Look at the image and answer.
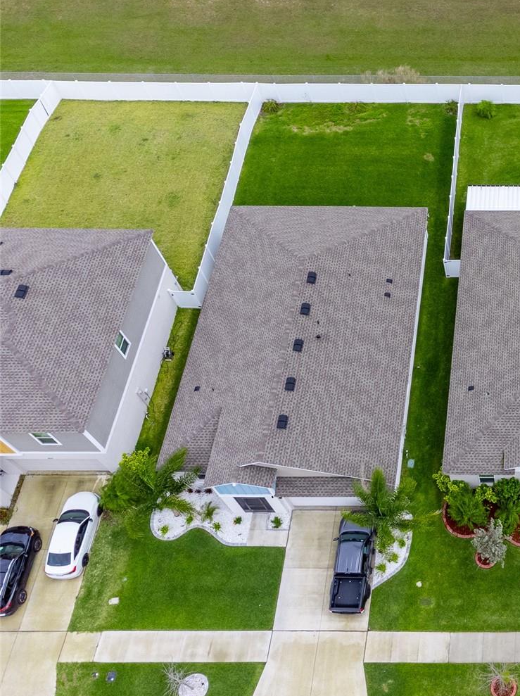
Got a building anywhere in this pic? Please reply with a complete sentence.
Yes, the picture does show a building.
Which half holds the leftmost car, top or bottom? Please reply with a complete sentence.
The bottom half of the photo is where the leftmost car is.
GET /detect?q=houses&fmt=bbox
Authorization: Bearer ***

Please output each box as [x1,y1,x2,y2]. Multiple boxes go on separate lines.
[0,232,178,508]
[441,210,520,489]
[161,207,429,516]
